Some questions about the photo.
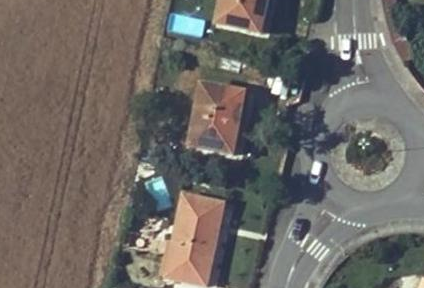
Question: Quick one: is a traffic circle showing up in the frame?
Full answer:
Yes, the image includes a traffic circle.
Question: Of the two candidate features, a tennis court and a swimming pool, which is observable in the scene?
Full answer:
The one in the frame is a swimming pool.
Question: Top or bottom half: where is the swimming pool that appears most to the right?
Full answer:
The top half of the photo is where the swimming pool that appears most to the right is.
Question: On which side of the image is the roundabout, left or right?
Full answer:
The roundabout appears in the right half of the scene.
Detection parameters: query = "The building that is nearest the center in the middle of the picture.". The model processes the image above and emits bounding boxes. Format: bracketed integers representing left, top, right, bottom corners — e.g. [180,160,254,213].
[184,78,246,160]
